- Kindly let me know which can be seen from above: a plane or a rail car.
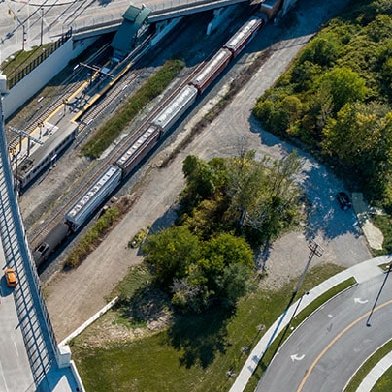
rail car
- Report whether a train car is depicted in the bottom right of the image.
No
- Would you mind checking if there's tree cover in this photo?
Yes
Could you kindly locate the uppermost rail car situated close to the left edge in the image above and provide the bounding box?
[15,120,78,187]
